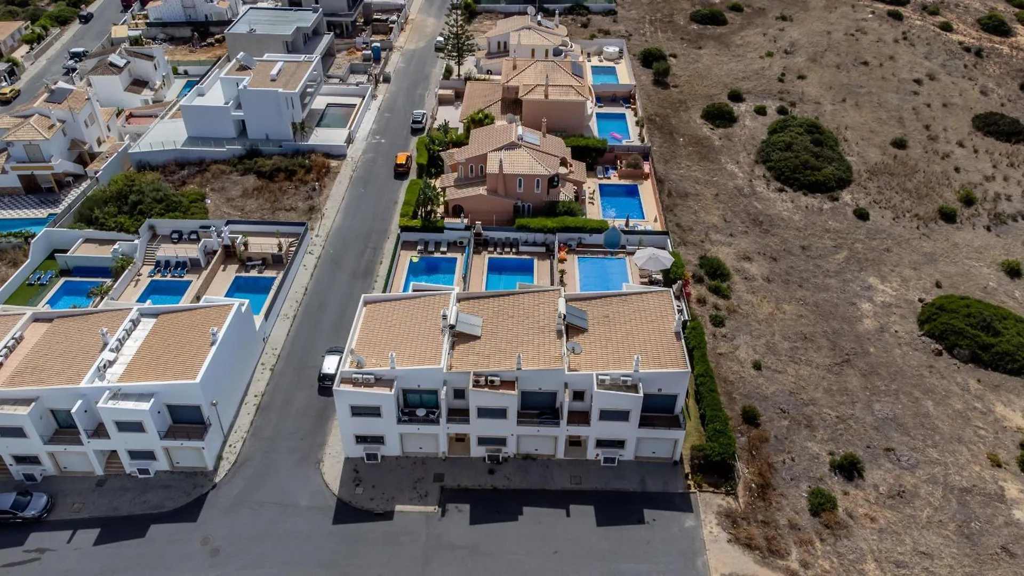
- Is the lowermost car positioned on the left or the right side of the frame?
left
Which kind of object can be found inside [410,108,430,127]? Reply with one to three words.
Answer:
car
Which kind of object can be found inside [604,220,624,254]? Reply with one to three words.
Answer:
umbrella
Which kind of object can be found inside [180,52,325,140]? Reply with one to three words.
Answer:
house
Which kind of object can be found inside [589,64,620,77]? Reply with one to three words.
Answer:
swimming pool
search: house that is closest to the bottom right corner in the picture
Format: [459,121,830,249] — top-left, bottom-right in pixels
[561,281,690,472]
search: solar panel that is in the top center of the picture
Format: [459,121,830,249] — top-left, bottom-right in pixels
[566,59,584,79]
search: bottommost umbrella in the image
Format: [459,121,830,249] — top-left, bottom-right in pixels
[629,252,677,282]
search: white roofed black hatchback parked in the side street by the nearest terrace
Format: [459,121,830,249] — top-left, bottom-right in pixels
[317,346,343,384]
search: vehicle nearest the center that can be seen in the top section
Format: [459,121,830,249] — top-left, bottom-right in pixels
[394,149,415,170]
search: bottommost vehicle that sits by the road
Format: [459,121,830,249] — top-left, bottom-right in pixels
[0,484,59,519]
